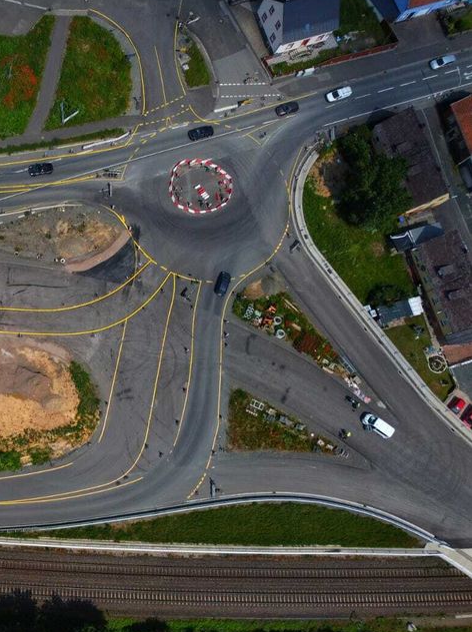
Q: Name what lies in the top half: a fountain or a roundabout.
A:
roundabout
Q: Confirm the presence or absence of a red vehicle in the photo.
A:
Yes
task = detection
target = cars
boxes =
[186,125,216,140]
[215,270,230,296]
[27,162,53,176]
[427,53,458,69]
[273,100,300,117]
[449,396,468,416]
[325,84,353,102]
[461,408,472,431]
